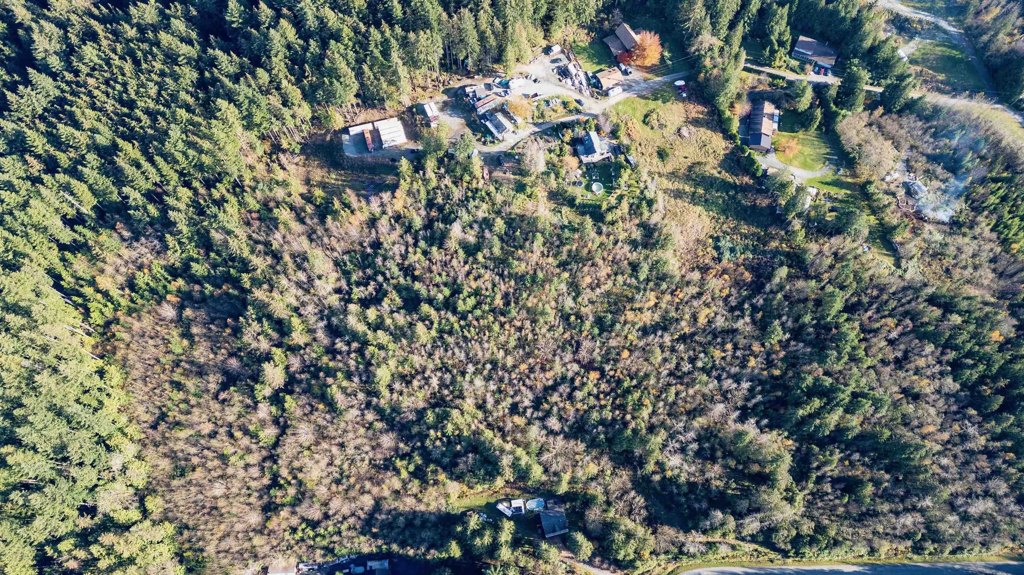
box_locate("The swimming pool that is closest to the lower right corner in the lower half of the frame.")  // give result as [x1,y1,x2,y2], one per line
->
[527,498,544,511]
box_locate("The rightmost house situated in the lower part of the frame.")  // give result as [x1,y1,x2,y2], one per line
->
[540,511,569,539]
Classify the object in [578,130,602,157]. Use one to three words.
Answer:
house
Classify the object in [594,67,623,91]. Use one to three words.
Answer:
house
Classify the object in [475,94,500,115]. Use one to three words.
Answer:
barn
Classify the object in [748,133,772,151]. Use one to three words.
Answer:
building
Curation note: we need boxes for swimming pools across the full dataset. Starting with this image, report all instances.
[592,182,603,194]
[527,498,544,511]
[351,565,365,575]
